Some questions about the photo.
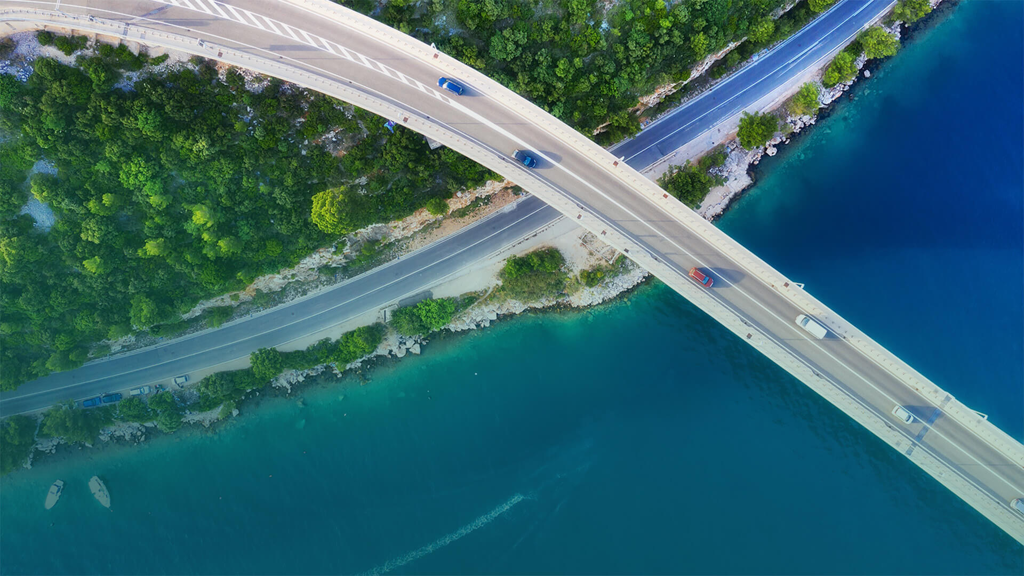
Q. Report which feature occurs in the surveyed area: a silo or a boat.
boat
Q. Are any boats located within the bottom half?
Yes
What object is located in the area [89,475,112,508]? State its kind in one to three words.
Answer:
boat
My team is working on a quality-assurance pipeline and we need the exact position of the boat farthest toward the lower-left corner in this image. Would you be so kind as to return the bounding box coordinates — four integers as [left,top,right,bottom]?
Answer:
[46,478,67,509]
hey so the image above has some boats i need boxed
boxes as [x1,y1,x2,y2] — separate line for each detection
[46,478,67,509]
[89,475,112,508]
